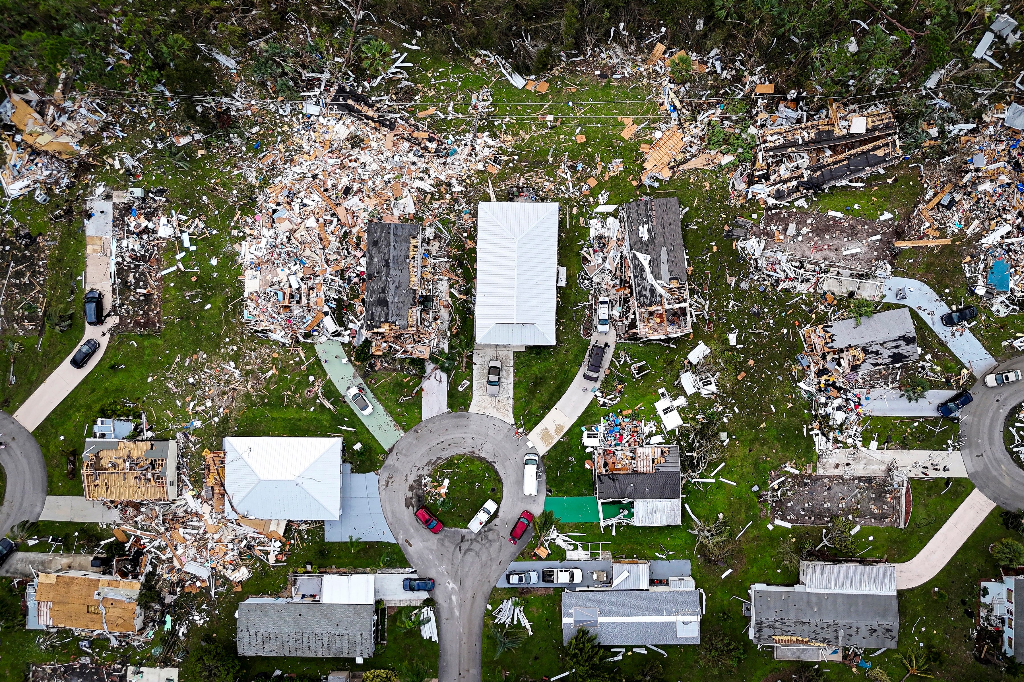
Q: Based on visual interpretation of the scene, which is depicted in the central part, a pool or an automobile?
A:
automobile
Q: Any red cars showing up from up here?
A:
Yes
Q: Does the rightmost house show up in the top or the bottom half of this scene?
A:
bottom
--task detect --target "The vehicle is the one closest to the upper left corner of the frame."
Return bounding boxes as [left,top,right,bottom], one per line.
[83,290,104,326]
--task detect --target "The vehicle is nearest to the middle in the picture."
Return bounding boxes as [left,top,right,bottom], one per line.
[486,359,502,397]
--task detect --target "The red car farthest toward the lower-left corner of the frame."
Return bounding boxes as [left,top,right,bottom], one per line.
[412,505,444,535]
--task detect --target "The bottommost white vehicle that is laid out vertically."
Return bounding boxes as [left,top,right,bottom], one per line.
[522,453,542,497]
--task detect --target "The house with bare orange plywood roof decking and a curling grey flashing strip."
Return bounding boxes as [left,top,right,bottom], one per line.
[26,554,150,646]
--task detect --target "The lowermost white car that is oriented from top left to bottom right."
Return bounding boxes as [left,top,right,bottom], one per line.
[348,385,374,417]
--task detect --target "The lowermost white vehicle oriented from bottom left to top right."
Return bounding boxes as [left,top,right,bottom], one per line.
[466,498,497,536]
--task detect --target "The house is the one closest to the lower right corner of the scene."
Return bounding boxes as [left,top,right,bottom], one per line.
[979,571,1024,664]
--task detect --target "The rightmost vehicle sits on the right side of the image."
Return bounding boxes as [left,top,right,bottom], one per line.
[983,369,1023,387]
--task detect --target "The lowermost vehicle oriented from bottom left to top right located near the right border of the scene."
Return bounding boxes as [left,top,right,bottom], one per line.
[934,387,975,420]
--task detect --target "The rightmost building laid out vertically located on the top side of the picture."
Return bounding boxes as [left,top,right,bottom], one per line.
[623,197,692,340]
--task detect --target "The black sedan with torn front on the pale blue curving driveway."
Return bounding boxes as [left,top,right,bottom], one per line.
[939,306,978,326]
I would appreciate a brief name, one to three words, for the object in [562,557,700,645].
house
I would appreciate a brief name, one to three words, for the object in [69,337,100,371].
car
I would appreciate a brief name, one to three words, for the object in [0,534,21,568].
car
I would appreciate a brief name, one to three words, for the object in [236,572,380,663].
house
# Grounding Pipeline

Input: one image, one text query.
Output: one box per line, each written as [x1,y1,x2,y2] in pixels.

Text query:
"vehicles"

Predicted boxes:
[541,567,583,586]
[412,505,444,535]
[486,359,502,397]
[596,297,611,332]
[583,343,607,380]
[466,498,497,536]
[69,337,100,371]
[934,387,975,420]
[402,576,436,594]
[83,290,104,326]
[0,534,21,568]
[939,306,978,326]
[983,369,1023,387]
[505,569,539,587]
[522,453,542,497]
[505,508,534,547]
[348,385,374,417]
